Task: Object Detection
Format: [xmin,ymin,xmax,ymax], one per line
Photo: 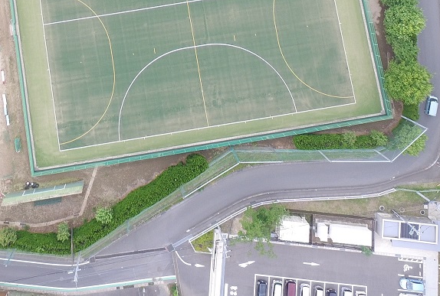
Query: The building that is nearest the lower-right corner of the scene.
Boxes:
[377,212,440,249]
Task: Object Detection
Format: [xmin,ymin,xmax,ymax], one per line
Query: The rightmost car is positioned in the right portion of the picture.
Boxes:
[425,96,440,116]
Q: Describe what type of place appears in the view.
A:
sports ground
